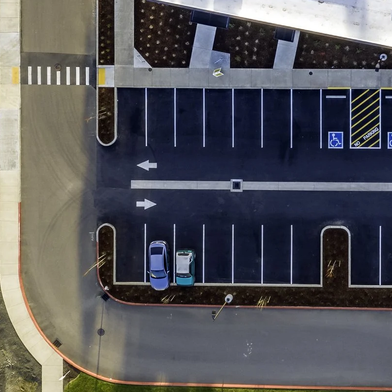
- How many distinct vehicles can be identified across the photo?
2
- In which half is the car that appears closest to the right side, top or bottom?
bottom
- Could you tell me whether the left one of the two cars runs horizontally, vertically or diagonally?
vertically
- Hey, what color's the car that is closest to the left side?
blue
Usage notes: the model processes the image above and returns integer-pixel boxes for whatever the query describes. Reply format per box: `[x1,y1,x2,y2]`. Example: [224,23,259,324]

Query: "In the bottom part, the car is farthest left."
[147,238,170,288]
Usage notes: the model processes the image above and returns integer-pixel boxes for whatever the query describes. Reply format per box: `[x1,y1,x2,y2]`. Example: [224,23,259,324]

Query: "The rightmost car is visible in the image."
[175,247,197,285]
